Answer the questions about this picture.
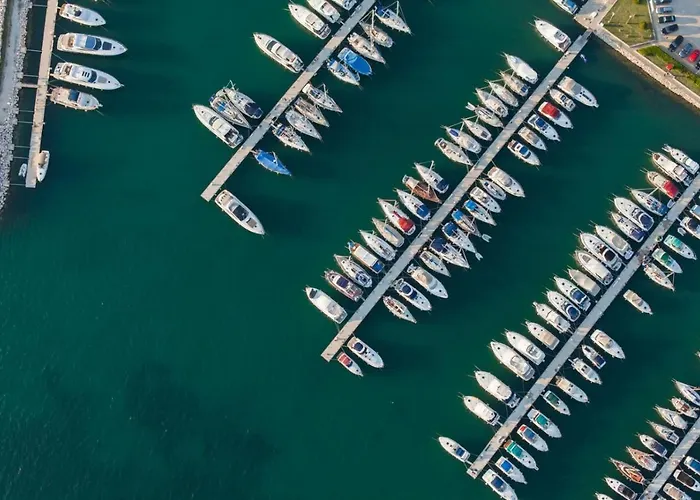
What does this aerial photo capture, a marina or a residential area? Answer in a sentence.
It's a marina.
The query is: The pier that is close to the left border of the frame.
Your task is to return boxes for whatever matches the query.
[25,0,58,188]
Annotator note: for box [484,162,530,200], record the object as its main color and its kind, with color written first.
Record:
white boat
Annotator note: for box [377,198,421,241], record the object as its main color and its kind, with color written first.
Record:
white boat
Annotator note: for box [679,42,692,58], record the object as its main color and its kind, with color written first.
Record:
blue vehicle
